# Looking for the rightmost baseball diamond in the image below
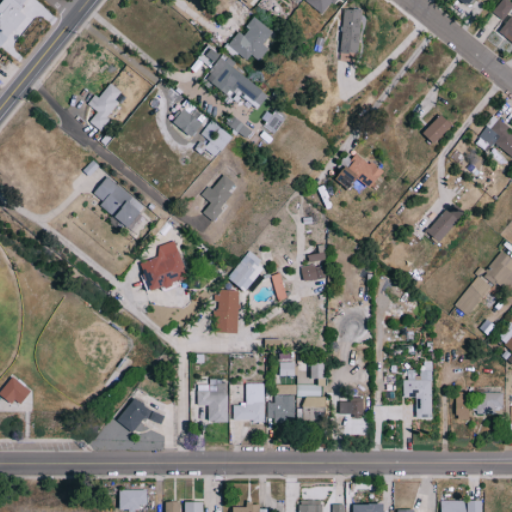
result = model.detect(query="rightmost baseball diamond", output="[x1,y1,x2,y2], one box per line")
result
[34,297,131,406]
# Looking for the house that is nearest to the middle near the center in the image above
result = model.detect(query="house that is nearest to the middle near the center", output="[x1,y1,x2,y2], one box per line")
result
[228,250,265,290]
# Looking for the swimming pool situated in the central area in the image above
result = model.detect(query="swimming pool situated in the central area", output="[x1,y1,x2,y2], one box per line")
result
[252,286,274,302]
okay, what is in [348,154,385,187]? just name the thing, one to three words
house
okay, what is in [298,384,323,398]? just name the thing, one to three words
building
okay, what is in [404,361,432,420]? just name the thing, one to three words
house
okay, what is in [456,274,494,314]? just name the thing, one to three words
barn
